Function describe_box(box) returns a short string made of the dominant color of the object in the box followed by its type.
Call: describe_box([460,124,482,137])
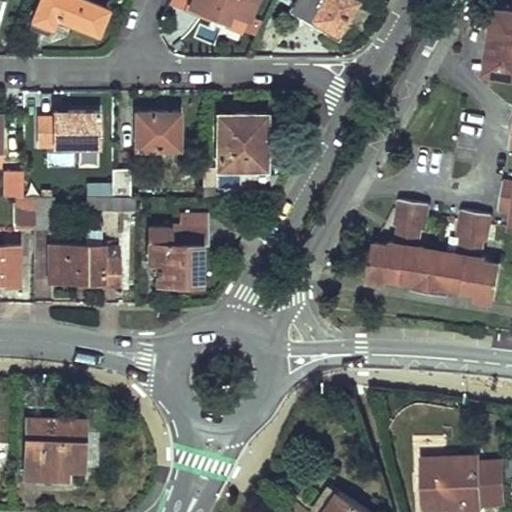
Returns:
white vehicle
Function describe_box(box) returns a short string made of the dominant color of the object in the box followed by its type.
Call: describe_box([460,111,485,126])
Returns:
white vehicle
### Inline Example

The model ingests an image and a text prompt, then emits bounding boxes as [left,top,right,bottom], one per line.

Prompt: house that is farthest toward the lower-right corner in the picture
[420,456,505,512]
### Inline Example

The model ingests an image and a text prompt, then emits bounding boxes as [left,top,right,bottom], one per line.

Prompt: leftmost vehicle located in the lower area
[74,352,104,366]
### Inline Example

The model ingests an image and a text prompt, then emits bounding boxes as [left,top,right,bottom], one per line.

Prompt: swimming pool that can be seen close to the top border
[194,24,218,45]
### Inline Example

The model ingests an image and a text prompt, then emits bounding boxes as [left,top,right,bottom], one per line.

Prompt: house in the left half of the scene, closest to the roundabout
[148,212,210,294]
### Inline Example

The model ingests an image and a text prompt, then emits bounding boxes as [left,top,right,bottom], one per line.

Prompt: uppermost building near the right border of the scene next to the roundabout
[366,243,501,311]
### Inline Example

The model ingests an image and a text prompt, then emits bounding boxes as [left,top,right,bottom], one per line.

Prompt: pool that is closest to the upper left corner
[79,153,100,168]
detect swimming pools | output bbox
[79,153,100,168]
[219,178,240,189]
[194,24,218,45]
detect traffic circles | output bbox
[146,294,304,457]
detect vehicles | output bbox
[460,111,485,126]
[250,74,272,84]
[192,333,216,344]
[6,74,26,84]
[469,26,480,44]
[201,412,223,423]
[344,356,365,366]
[40,96,50,114]
[417,149,428,172]
[330,136,344,148]
[74,352,104,366]
[460,124,482,137]
[161,73,181,83]
[126,10,138,30]
[189,74,212,84]
[126,367,147,382]
[8,130,18,153]
[121,122,132,148]
[280,200,294,219]
[430,151,442,174]
[496,150,507,170]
